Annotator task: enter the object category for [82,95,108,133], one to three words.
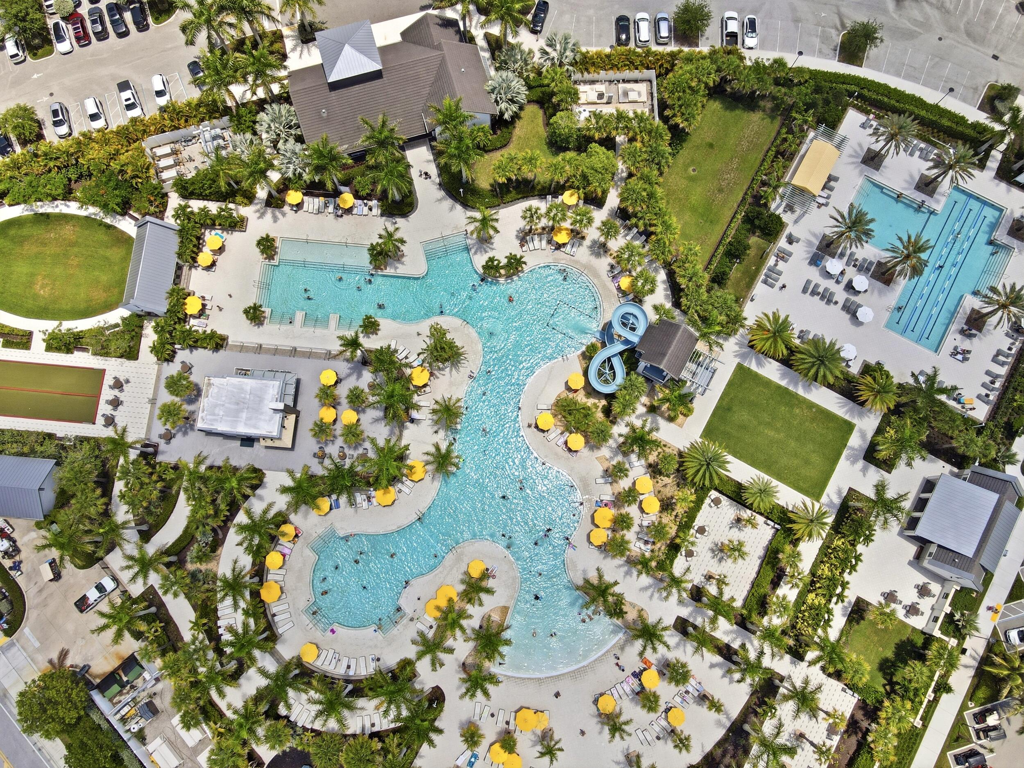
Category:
car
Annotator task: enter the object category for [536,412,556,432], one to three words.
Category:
umbrella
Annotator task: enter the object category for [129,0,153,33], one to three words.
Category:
car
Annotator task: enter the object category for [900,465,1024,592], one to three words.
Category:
building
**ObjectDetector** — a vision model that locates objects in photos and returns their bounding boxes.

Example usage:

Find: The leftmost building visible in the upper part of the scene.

[119,211,187,318]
